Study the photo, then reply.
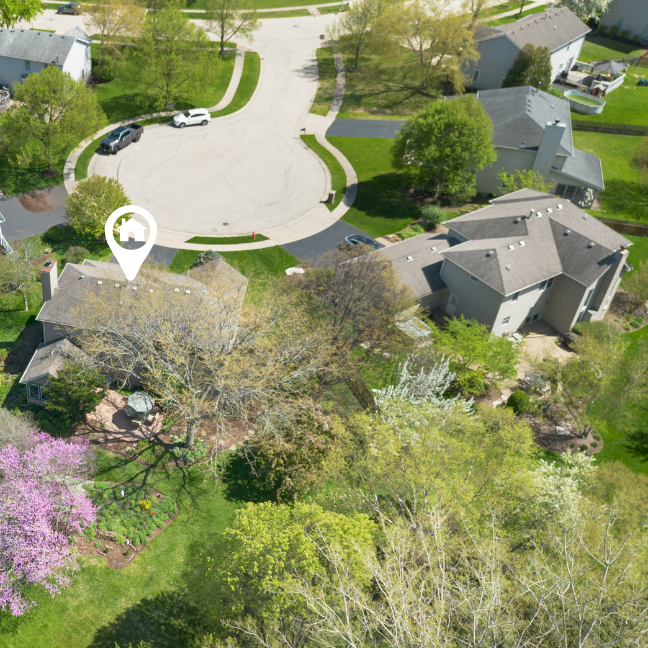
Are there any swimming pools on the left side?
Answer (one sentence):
No, no swimming pool can be made out on the left side.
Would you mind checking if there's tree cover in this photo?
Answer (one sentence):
Yes, some tree cover is visible.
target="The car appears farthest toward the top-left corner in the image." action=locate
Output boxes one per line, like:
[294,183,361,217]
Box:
[55,1,84,15]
